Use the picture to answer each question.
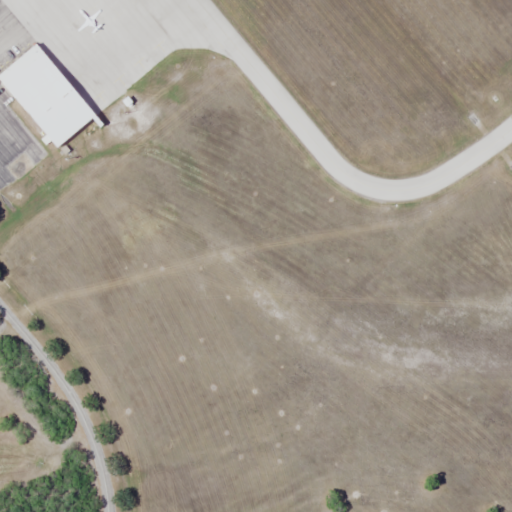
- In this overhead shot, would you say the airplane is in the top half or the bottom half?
top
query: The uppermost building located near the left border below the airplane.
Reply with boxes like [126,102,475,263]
[0,42,104,148]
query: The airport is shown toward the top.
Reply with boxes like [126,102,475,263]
[0,0,512,204]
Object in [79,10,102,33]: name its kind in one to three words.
airplane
